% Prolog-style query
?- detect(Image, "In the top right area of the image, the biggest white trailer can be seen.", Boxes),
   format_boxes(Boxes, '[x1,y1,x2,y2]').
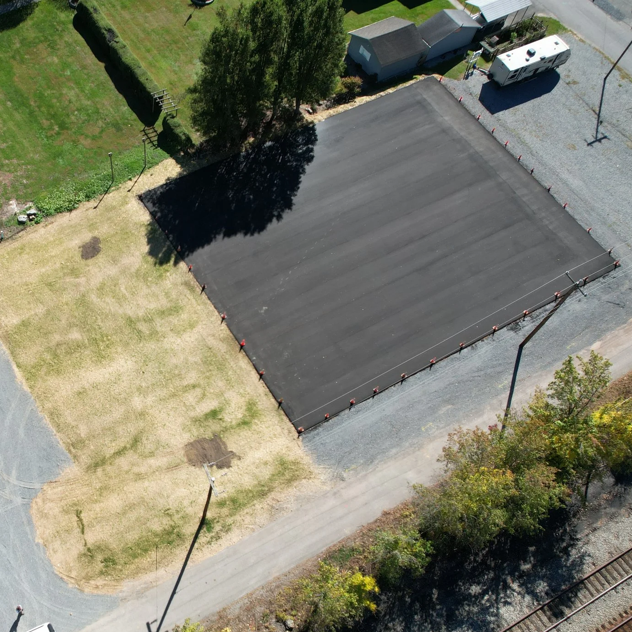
[482,36,568,89]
